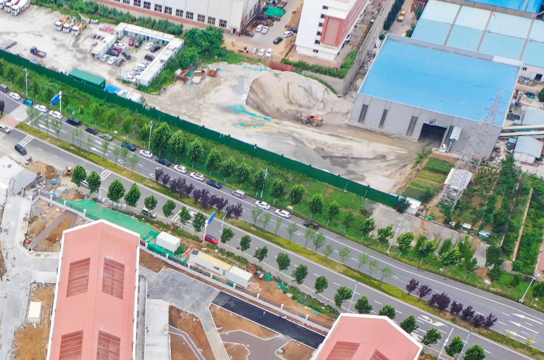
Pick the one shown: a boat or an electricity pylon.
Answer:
electricity pylon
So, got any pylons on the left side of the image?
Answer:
No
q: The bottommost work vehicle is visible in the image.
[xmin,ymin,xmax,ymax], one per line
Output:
[243,262,266,278]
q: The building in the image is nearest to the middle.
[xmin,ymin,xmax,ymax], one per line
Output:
[190,250,233,280]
